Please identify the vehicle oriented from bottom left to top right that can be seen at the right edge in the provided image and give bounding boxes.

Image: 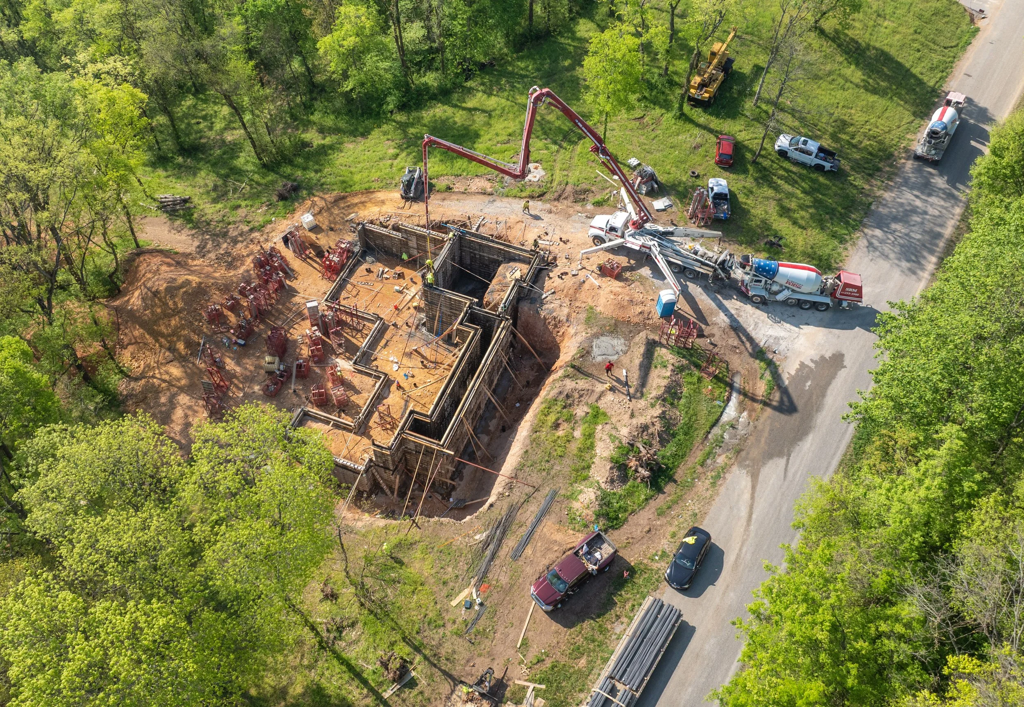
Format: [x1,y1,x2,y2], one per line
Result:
[918,87,977,158]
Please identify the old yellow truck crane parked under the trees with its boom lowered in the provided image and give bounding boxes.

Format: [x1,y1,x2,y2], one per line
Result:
[692,24,735,99]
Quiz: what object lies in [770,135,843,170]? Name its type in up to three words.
truck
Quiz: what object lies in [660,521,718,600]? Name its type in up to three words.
car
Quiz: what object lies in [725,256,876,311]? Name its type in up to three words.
truck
